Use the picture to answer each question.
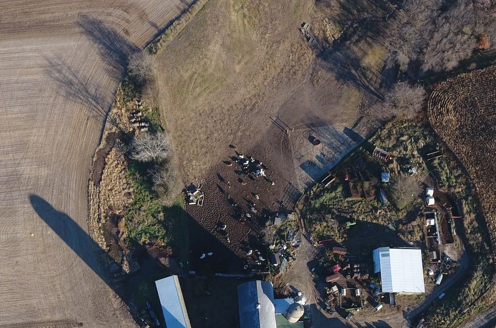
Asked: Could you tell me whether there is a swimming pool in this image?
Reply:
No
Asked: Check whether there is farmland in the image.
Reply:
Yes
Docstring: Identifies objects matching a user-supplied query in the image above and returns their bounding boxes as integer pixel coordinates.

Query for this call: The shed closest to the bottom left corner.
[156,275,192,328]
